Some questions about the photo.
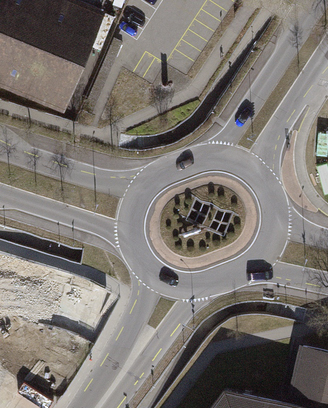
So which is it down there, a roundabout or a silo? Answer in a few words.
roundabout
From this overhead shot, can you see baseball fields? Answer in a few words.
No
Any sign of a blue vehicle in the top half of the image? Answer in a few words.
Yes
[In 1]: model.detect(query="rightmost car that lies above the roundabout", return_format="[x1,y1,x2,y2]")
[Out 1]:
[234,106,252,128]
